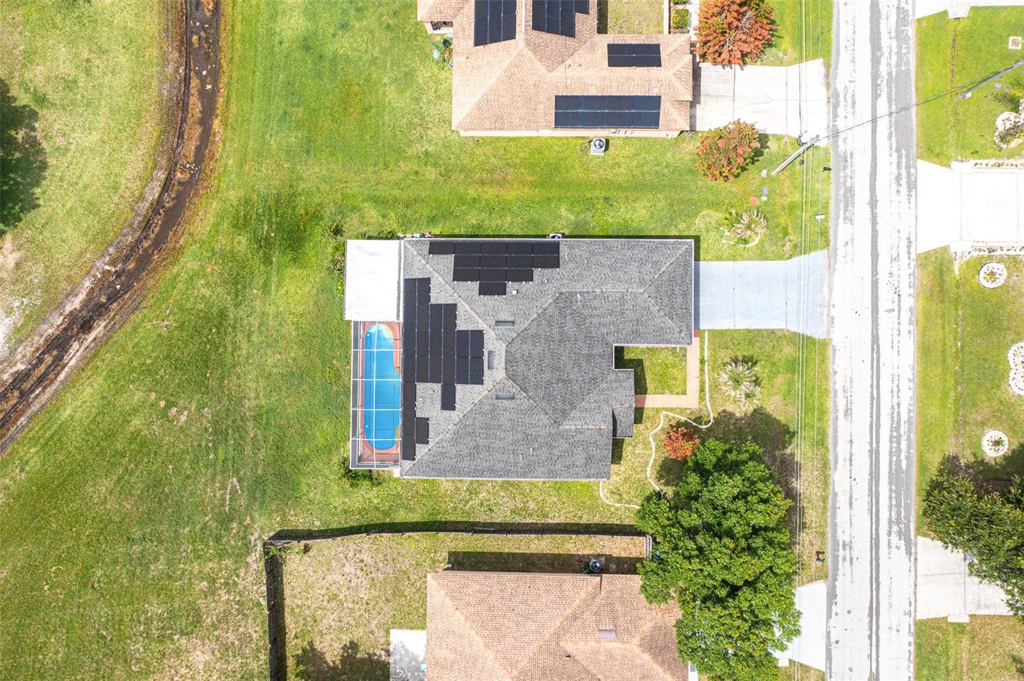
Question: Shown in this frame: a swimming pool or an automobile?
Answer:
swimming pool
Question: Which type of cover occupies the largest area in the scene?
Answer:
grass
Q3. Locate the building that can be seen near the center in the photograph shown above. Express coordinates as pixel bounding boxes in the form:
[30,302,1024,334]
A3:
[343,238,695,481]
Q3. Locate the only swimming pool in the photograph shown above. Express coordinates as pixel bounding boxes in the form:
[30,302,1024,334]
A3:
[360,321,401,454]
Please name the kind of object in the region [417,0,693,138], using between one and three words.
house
